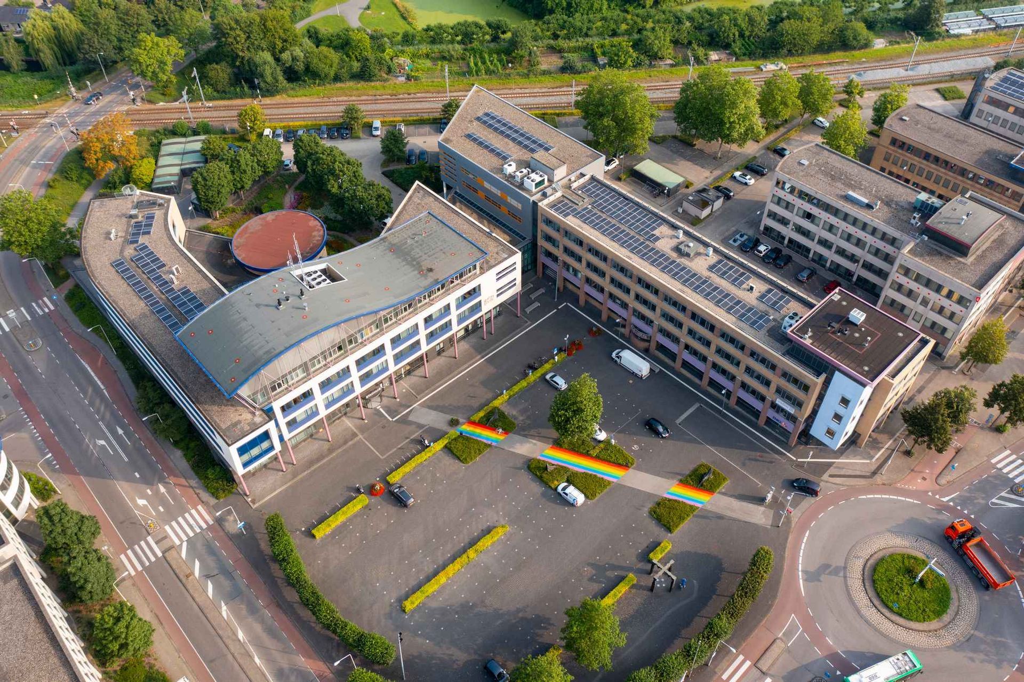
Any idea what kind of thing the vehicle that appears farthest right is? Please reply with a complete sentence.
The vehicle that appears farthest right in the image is a truck.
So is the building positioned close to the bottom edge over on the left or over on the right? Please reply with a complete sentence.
You can find the building positioned close to the bottom edge on the left side of the picture.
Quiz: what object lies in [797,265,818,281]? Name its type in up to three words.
car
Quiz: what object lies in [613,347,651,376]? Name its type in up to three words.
van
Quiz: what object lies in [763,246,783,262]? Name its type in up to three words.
car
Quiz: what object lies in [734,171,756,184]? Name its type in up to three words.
vehicle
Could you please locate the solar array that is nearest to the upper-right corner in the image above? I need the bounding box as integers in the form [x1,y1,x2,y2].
[991,70,1024,101]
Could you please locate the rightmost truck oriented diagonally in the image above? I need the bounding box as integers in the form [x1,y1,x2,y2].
[944,519,1015,585]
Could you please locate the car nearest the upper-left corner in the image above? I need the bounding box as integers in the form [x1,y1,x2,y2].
[83,91,102,103]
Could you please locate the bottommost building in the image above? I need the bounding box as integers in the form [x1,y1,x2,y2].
[0,506,103,682]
